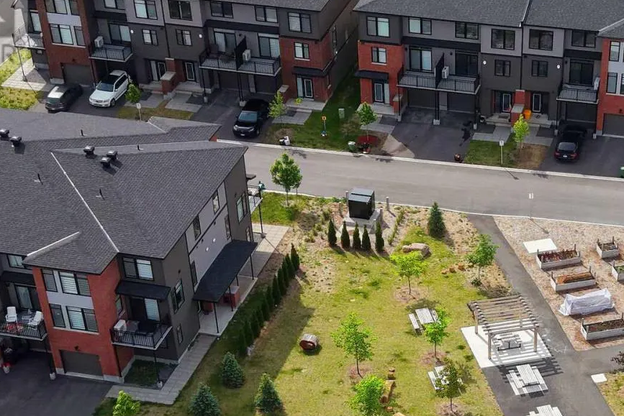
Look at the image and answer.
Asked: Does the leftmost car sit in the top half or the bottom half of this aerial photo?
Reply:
top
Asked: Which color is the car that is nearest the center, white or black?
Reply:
black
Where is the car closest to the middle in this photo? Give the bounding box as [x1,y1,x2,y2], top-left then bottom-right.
[230,97,270,137]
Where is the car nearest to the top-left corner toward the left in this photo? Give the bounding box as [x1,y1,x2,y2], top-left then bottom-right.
[43,84,88,110]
